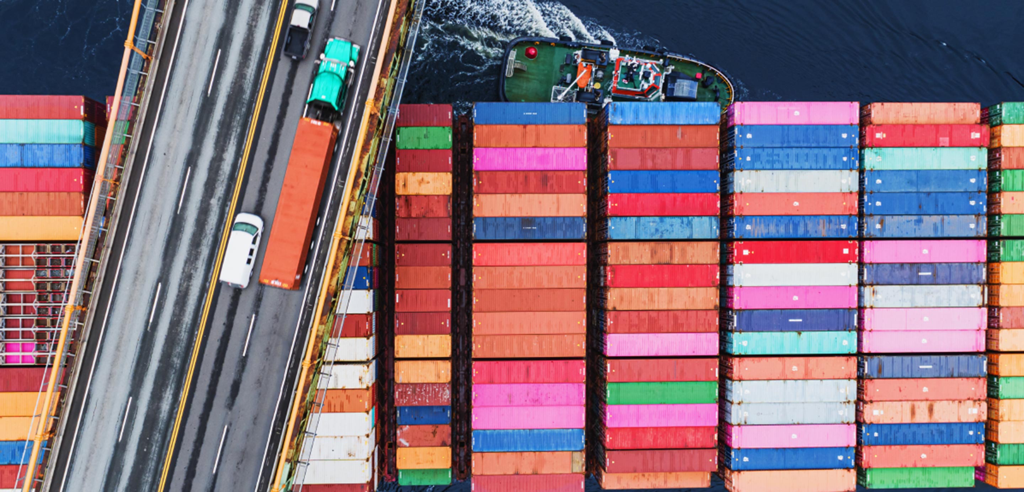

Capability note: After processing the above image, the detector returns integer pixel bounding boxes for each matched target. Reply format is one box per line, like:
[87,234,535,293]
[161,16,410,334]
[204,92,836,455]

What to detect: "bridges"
[8,0,424,492]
